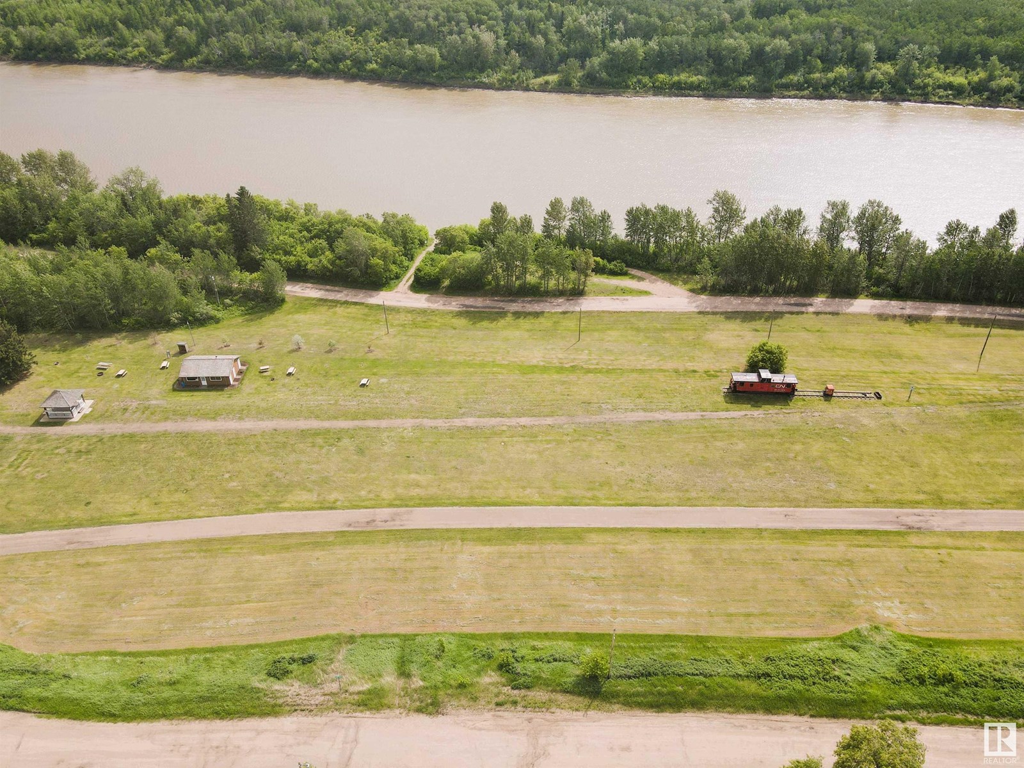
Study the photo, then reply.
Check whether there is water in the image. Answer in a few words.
Yes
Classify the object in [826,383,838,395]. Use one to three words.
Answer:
rail car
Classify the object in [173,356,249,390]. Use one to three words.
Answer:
building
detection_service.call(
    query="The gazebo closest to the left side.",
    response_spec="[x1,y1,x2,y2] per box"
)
[39,389,96,421]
